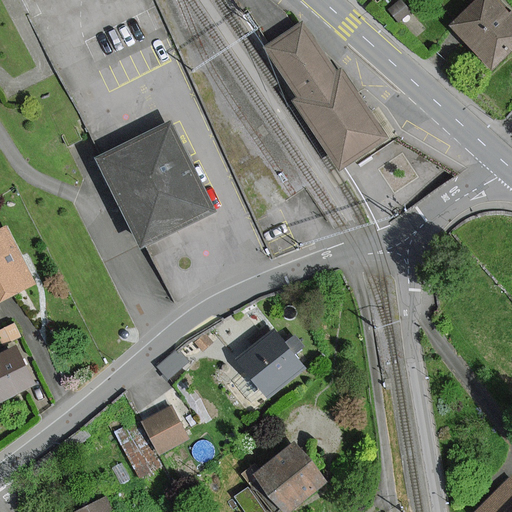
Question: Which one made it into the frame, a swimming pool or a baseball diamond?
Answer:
swimming pool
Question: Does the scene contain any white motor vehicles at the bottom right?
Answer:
No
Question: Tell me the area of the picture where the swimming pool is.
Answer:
bottom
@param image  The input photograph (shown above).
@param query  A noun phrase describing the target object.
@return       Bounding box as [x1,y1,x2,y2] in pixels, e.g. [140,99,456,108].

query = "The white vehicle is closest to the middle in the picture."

[264,224,288,240]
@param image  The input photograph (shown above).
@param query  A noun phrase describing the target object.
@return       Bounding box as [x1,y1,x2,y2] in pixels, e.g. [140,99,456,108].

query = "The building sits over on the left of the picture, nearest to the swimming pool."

[141,406,190,456]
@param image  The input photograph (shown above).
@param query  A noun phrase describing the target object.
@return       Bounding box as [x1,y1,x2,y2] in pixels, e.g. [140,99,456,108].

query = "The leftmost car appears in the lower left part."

[32,380,45,401]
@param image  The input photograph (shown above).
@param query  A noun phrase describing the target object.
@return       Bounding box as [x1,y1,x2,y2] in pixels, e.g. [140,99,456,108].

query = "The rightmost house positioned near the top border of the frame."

[450,0,512,70]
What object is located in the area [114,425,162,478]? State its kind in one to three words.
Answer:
shed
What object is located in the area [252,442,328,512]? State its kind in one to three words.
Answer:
house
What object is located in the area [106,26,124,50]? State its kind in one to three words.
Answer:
car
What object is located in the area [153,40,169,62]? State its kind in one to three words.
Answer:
car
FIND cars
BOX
[153,40,169,62]
[106,26,124,50]
[96,32,113,54]
[194,163,208,182]
[127,17,144,40]
[264,224,288,240]
[32,380,45,401]
[119,22,135,45]
[206,186,222,208]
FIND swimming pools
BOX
[189,440,215,464]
